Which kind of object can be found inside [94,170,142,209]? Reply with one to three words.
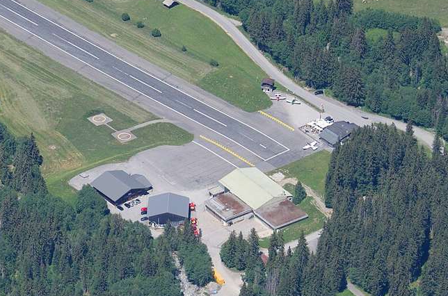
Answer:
hangar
